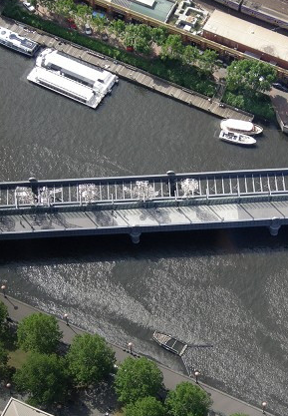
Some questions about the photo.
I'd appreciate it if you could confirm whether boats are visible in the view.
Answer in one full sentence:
Yes, there's a boat here.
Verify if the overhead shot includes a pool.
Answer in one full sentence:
No, no pool is visible in the scene.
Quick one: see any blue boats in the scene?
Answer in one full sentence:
No, I find no blue boat anywhere in the image.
